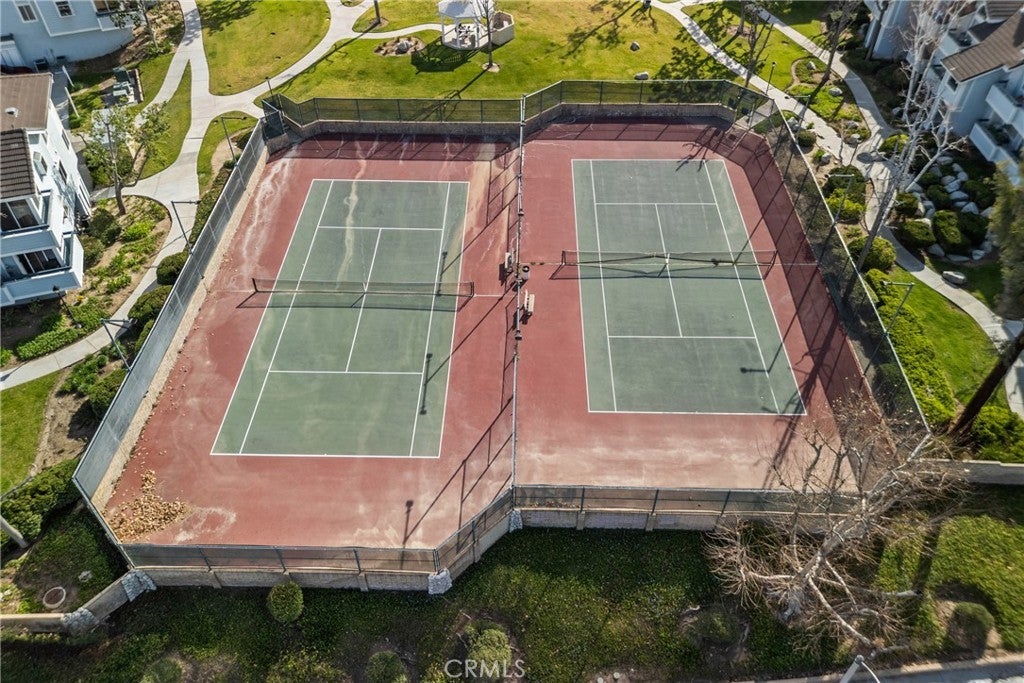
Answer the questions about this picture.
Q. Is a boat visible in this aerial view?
No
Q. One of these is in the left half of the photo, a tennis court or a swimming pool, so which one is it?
tennis court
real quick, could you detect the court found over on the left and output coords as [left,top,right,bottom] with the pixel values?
[104,134,519,568]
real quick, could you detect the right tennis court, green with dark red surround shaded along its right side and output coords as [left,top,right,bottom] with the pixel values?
[513,117,898,512]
